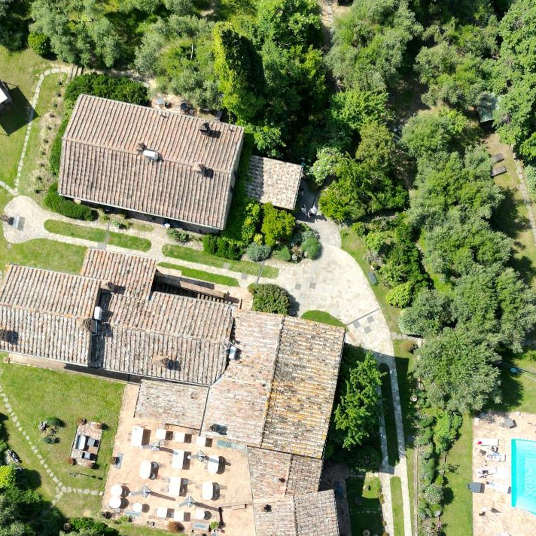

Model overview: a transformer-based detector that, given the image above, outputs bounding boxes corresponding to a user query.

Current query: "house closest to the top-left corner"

[58,94,246,239]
